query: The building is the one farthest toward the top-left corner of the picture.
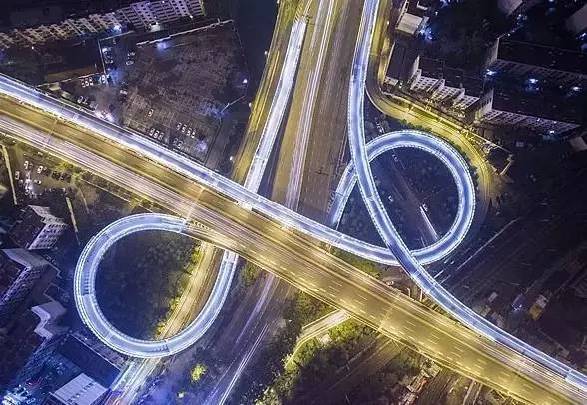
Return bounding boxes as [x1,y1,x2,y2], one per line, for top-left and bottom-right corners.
[0,0,84,56]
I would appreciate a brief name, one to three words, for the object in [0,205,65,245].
building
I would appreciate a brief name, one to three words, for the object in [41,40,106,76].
building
